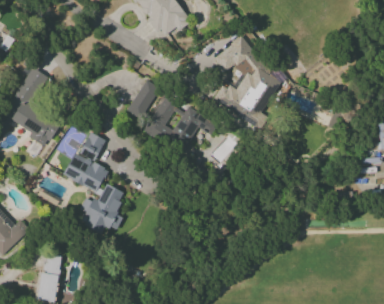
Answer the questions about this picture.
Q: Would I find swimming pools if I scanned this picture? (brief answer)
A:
Yes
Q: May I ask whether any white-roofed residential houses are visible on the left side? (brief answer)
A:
Yes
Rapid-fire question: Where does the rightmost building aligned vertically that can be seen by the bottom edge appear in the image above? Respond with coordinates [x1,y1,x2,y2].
[38,256,61,302]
